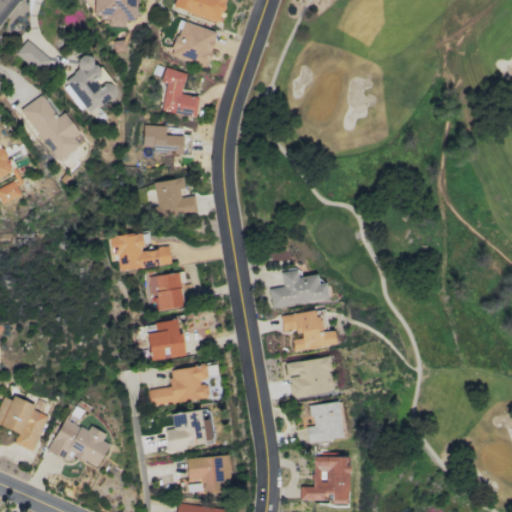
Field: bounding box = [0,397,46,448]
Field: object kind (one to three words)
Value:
house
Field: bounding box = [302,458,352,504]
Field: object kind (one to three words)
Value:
house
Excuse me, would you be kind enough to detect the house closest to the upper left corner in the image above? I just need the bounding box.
[17,40,56,72]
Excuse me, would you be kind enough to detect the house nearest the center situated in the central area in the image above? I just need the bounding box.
[270,270,331,307]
